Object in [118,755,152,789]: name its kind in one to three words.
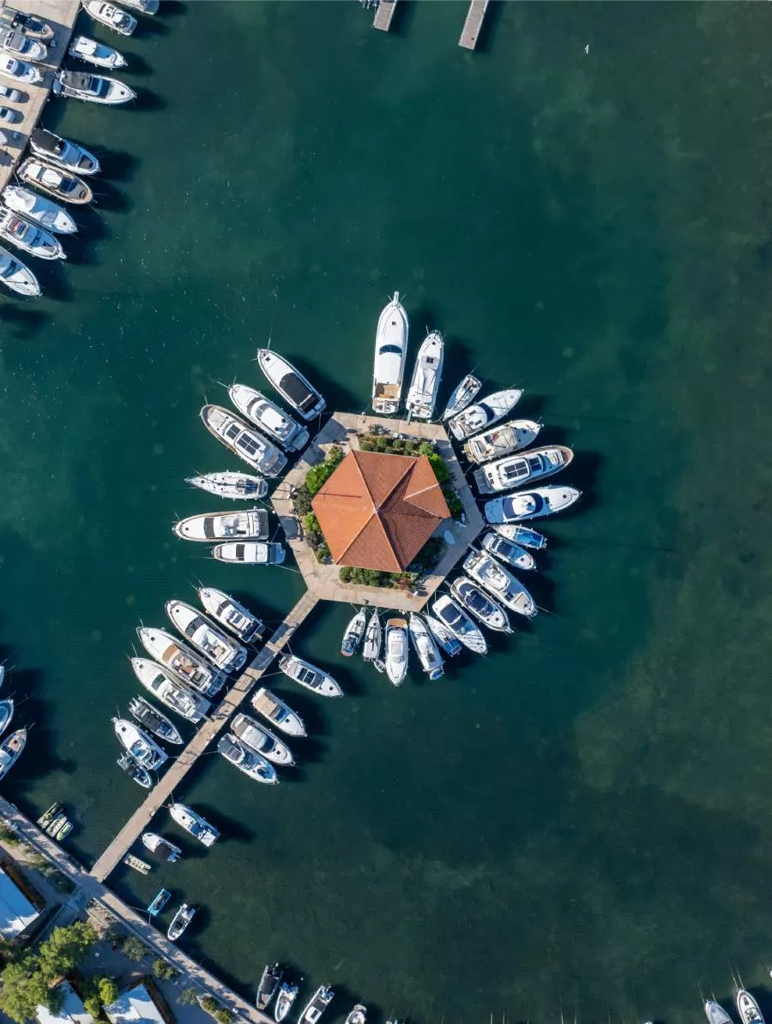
boat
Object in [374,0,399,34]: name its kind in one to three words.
pier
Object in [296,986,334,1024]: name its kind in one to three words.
boat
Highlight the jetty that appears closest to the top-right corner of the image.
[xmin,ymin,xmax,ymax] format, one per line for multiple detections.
[458,0,493,53]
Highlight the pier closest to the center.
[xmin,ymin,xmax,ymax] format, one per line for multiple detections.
[271,412,484,611]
